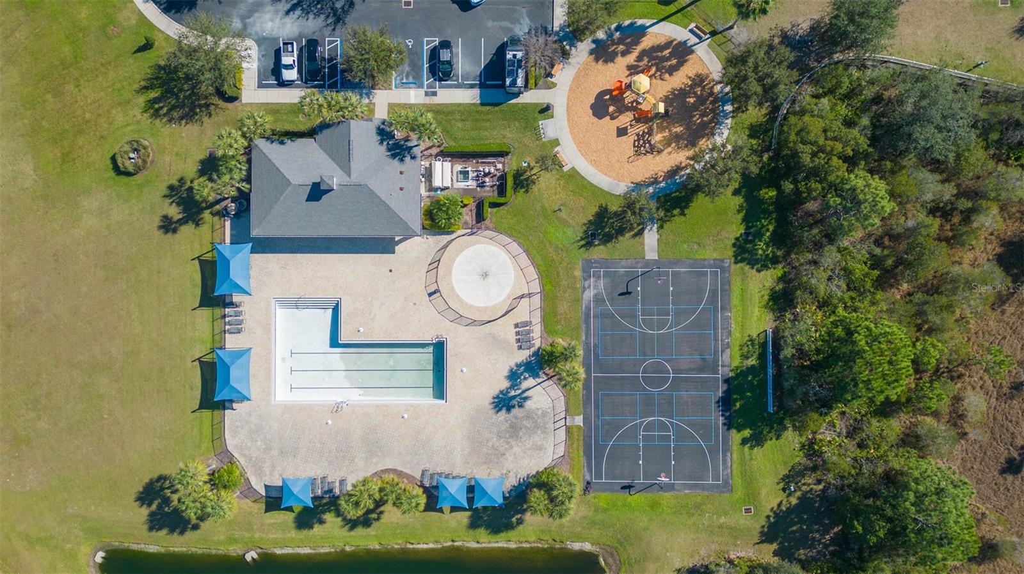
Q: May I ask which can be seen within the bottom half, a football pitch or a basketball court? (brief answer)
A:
basketball court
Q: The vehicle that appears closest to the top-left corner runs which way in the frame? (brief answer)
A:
from top to bottom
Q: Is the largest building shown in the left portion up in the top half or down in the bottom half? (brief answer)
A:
top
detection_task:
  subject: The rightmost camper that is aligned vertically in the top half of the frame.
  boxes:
[503,35,527,93]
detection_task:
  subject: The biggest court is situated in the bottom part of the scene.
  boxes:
[581,259,732,494]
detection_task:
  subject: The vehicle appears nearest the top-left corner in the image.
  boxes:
[277,41,297,83]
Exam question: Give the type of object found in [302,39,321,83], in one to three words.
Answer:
vehicle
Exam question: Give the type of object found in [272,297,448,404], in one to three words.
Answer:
swimming pool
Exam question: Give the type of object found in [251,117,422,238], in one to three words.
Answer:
building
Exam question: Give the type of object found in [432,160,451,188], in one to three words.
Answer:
shed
